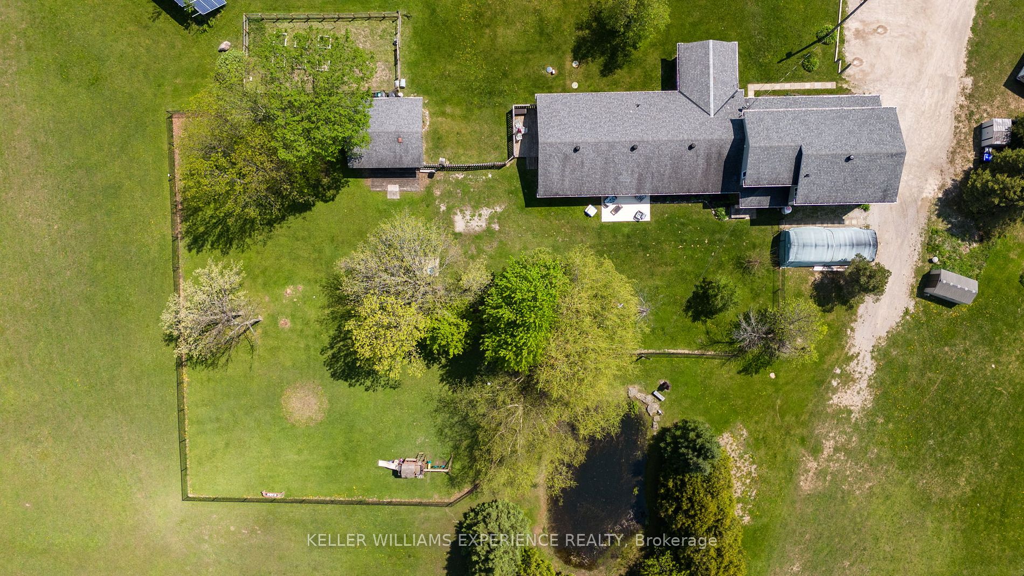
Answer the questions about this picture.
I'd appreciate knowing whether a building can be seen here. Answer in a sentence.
Yes, the picture does show a building.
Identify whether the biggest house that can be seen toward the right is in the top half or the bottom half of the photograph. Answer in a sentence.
The biggest house that can be seen toward the right sits in the top half of the picture.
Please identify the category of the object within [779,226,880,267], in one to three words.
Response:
building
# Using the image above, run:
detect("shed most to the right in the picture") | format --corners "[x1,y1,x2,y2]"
[981,118,1016,146]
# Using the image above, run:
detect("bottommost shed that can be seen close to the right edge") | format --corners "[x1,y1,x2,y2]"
[921,269,977,304]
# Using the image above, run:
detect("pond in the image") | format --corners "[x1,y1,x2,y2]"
[546,413,647,561]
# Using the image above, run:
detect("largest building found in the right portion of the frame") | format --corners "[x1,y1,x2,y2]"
[535,38,907,209]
